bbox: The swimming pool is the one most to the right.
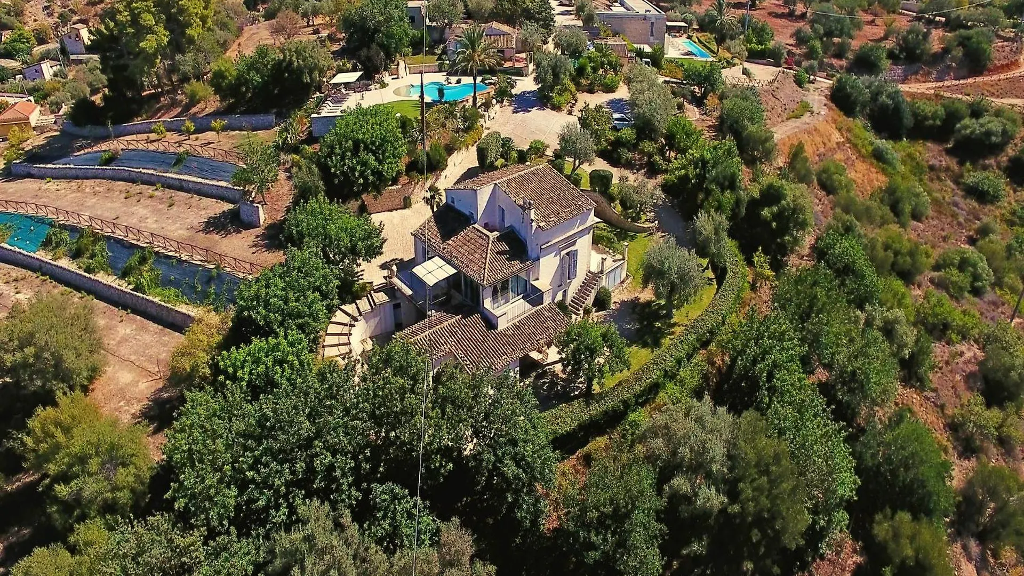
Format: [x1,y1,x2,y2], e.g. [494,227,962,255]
[678,39,714,57]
